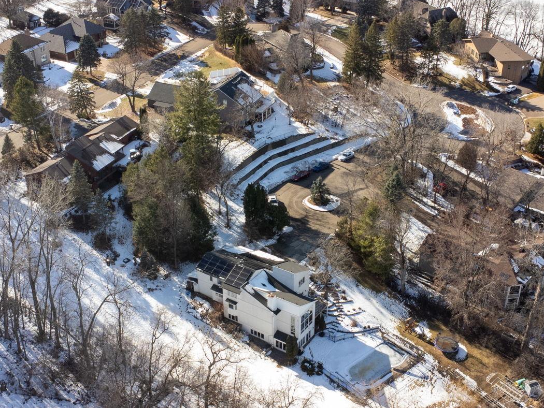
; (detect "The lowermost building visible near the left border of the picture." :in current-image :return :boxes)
[23,115,148,195]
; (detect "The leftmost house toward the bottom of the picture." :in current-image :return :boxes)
[189,242,336,350]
